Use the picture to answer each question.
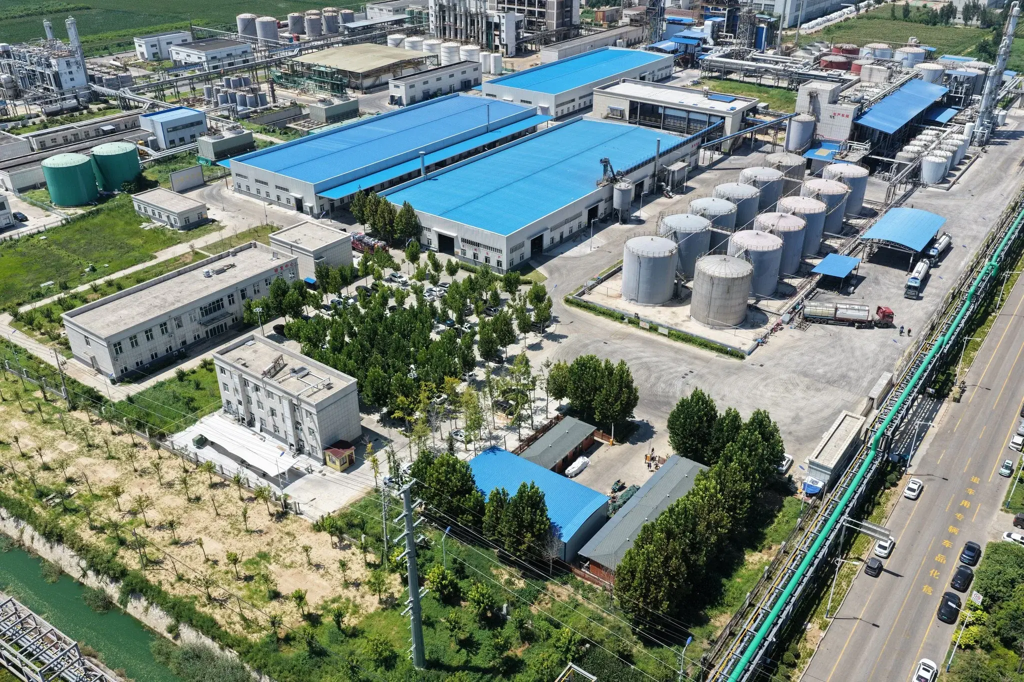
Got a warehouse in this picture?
Yes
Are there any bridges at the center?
No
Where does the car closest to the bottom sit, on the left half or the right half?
right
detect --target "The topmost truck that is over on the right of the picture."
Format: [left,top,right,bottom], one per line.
[923,227,952,271]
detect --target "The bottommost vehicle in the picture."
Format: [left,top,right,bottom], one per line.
[913,661,937,682]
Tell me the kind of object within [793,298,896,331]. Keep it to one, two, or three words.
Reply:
truck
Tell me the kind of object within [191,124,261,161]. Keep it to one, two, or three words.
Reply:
cooling tower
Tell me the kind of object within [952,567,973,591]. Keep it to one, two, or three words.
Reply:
car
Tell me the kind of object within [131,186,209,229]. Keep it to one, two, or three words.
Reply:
building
